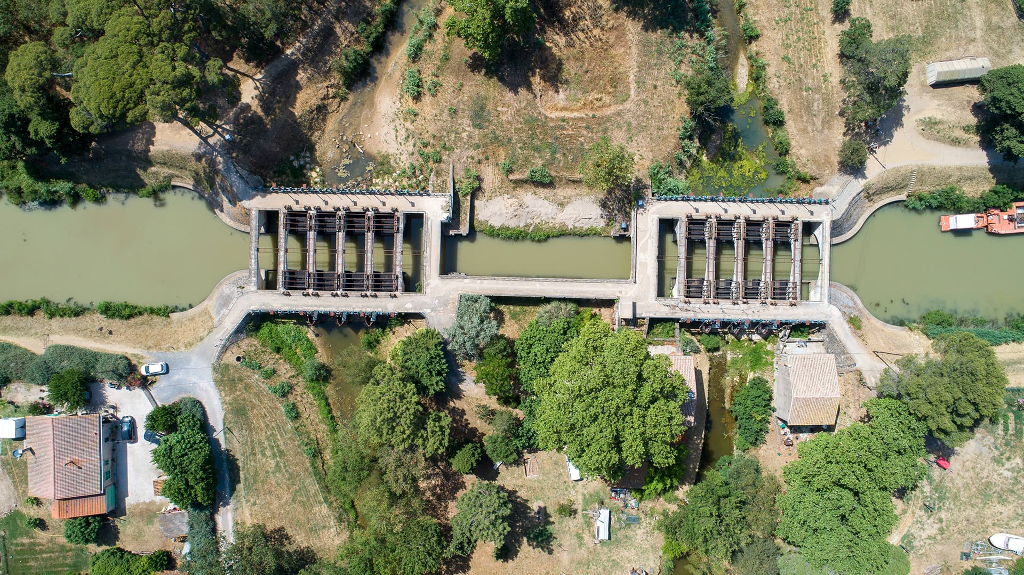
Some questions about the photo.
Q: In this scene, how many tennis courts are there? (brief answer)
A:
none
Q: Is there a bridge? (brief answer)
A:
Yes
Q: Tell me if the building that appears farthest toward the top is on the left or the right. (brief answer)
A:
right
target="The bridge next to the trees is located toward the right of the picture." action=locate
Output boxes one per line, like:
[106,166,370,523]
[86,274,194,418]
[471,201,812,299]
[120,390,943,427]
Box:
[635,194,835,337]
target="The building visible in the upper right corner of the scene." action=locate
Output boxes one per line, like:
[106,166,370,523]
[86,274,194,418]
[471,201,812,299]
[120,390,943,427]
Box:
[924,57,993,85]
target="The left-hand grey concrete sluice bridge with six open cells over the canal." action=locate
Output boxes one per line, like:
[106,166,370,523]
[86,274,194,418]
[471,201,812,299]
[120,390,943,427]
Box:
[245,186,455,328]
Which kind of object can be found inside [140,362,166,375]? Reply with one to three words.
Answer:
vehicle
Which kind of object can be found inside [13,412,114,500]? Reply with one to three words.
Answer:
house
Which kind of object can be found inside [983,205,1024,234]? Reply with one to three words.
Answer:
ship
